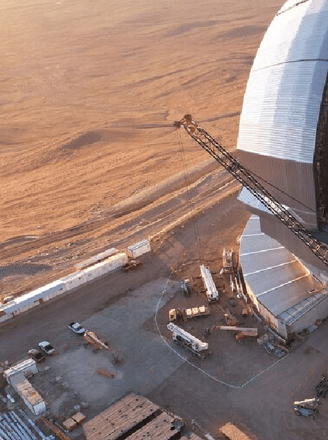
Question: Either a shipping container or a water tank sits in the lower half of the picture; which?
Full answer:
The feature located in the lower half of the picture is a shipping container.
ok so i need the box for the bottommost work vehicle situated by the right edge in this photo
[276,397,318,418]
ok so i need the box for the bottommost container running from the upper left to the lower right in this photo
[5,364,51,414]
